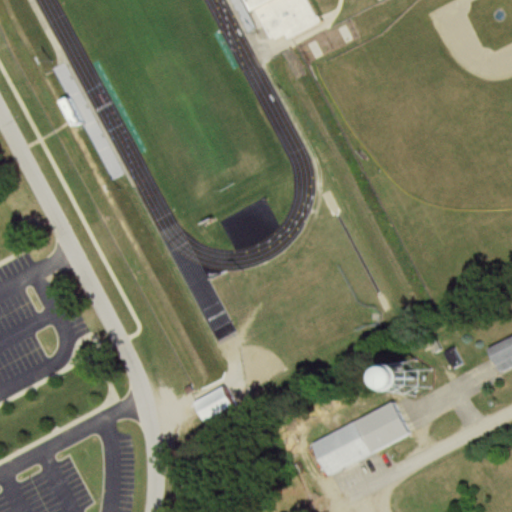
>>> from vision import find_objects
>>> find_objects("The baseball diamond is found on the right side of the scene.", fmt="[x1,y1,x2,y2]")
[316,0,512,210]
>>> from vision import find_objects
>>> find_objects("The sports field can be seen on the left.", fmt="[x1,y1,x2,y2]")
[58,0,294,250]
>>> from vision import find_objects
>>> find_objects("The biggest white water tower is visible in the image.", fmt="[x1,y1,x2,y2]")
[362,358,433,400]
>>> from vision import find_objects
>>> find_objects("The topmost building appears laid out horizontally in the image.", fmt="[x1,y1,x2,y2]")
[230,0,324,40]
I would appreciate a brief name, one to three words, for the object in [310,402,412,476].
shed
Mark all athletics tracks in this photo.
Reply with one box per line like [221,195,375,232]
[34,0,316,338]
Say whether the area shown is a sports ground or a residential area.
sports ground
